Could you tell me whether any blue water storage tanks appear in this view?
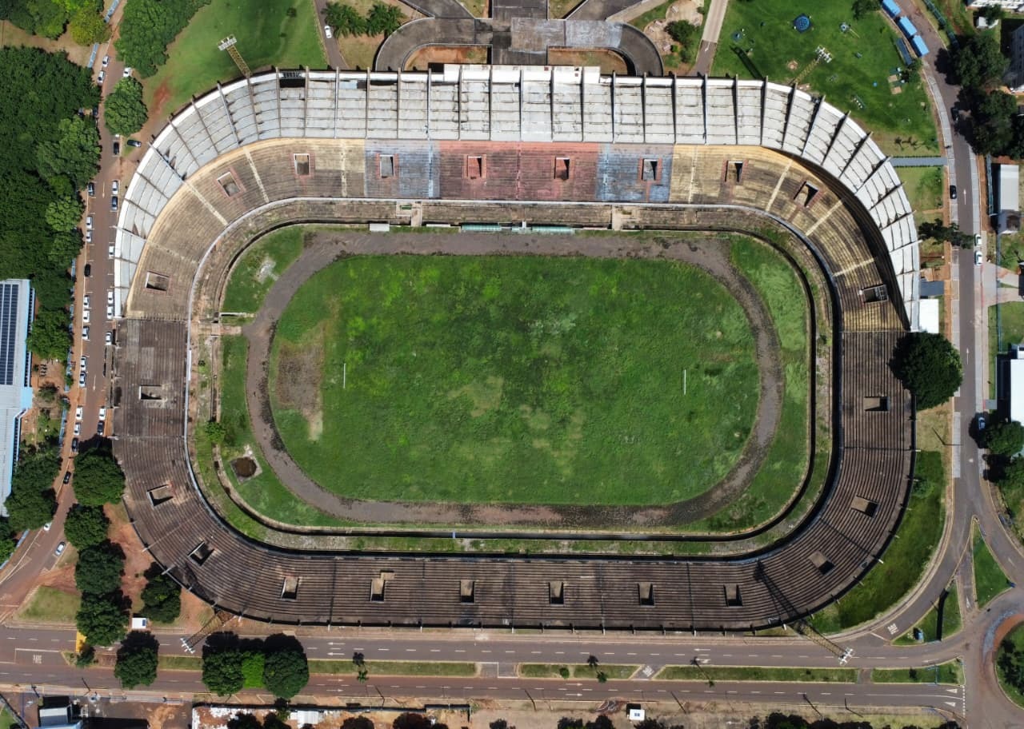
No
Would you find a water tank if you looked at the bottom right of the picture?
No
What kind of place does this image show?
sports ground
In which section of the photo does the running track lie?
center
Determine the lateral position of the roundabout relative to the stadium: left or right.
right of it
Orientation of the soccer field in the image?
from side to side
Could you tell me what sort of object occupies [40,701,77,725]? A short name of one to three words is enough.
house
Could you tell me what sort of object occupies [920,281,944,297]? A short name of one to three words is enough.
shed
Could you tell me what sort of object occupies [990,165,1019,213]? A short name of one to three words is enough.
building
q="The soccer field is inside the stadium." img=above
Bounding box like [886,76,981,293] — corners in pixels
[268,252,761,505]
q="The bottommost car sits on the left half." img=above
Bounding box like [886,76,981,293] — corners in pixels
[54,541,66,556]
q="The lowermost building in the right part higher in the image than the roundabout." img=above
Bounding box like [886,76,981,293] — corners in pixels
[994,359,1024,425]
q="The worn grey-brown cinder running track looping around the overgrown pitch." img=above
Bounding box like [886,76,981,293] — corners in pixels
[248,229,785,528]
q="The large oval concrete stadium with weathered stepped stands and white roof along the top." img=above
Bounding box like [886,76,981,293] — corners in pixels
[103,63,927,639]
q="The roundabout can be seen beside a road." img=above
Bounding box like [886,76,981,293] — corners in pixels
[918,543,1024,729]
